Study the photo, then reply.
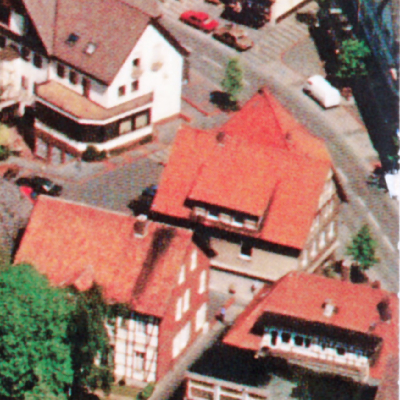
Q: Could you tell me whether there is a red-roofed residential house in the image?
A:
Yes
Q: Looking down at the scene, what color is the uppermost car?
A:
red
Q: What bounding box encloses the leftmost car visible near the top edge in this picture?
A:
[179,5,223,32]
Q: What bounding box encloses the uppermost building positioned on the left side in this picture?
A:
[0,0,181,162]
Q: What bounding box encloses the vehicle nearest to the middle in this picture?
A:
[121,183,158,210]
